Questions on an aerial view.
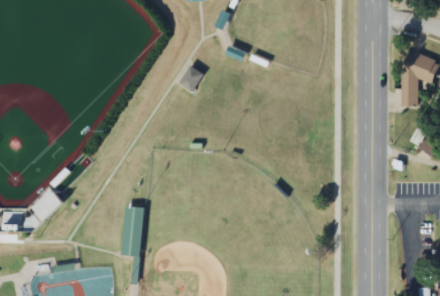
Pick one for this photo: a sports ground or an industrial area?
sports ground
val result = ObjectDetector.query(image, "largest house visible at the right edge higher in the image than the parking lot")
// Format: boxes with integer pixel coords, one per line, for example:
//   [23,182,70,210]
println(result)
[402,58,440,106]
